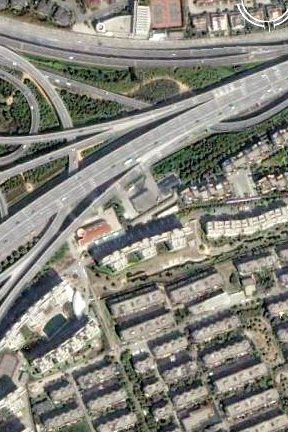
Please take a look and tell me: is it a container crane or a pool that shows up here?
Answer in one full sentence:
The one in the frame is a pool.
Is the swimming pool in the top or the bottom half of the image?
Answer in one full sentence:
You can find the swimming pool in the bottom half.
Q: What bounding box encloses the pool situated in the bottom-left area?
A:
[42,314,68,340]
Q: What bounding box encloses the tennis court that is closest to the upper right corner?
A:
[166,0,183,27]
